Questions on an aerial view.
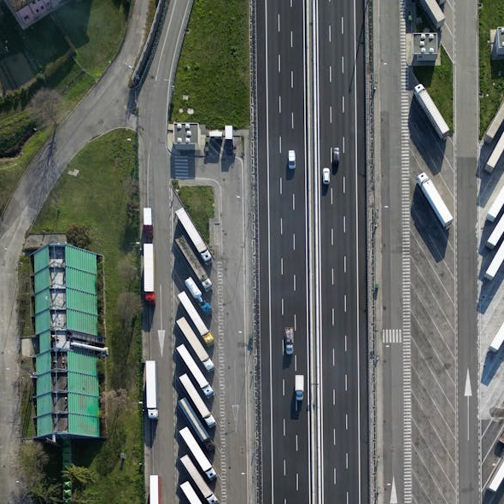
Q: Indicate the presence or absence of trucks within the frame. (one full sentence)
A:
Yes, a truck appears in the view.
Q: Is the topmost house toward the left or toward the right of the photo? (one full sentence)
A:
You can find the topmost house on the left side of the picture.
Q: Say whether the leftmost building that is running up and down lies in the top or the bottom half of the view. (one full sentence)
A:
The bottom half of the photo is where the leftmost building that is running up and down is.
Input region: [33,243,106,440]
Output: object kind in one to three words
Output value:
building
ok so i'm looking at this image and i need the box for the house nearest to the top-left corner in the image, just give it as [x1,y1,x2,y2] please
[5,0,75,33]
